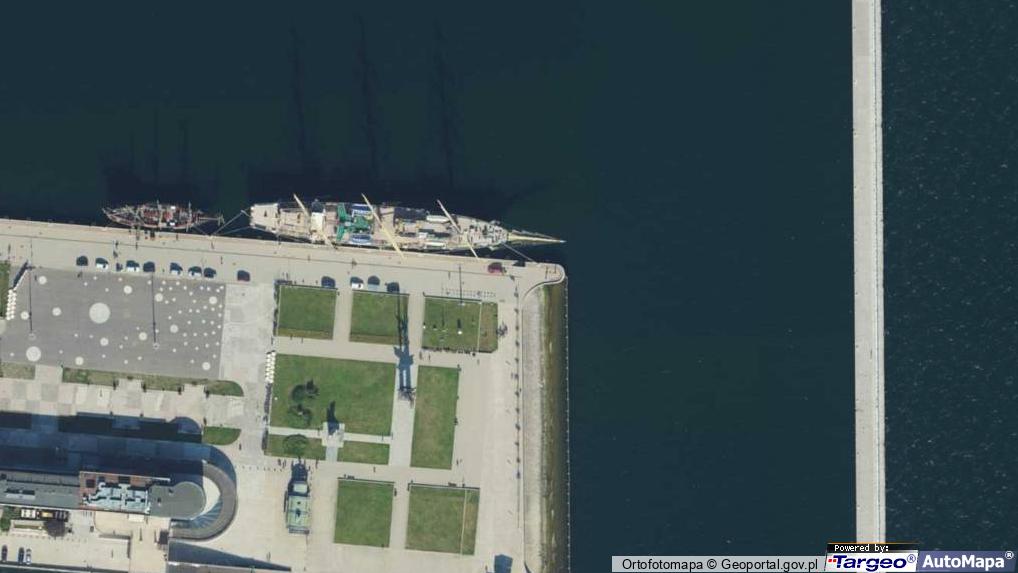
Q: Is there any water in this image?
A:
Yes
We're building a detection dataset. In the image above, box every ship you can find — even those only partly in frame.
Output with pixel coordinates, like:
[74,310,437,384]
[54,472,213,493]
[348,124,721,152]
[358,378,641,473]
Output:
[249,193,566,265]
[101,200,224,234]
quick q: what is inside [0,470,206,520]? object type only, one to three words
building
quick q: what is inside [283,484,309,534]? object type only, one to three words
building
